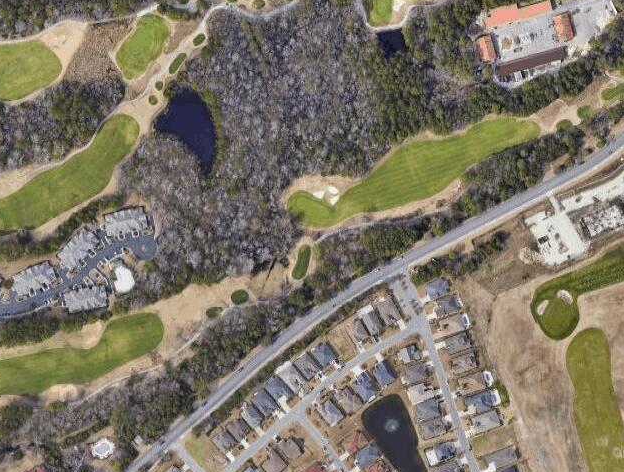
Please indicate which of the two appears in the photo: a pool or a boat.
pool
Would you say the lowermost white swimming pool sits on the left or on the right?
left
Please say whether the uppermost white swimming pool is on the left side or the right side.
left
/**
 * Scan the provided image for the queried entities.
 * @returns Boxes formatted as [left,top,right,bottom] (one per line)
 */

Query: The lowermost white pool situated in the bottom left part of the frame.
[92,438,114,458]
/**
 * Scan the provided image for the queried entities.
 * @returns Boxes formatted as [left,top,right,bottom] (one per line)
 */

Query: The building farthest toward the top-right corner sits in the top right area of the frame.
[553,13,575,41]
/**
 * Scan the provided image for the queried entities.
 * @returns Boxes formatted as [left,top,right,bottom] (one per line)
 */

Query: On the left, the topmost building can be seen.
[104,209,148,236]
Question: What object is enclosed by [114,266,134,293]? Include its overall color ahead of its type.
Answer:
white swimming pool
